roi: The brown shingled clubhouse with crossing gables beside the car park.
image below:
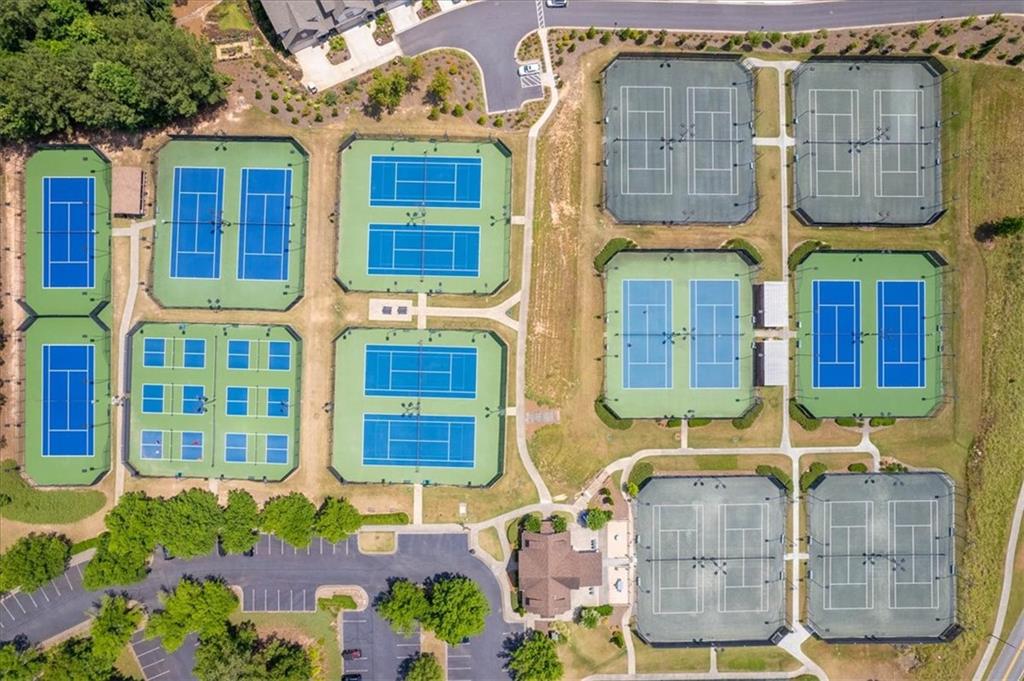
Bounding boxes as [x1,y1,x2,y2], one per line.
[518,525,604,625]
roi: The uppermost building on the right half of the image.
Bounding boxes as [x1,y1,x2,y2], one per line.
[753,281,789,327]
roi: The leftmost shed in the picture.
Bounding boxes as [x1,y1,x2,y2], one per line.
[111,166,147,215]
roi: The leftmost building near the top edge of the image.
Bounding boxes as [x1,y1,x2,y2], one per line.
[262,0,339,51]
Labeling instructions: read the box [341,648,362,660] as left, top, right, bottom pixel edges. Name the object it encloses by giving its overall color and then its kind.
black vehicle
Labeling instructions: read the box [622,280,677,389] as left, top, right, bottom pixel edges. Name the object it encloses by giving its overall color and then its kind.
blue tennis court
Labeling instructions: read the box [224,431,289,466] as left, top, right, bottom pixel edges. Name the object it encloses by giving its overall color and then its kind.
blue sports court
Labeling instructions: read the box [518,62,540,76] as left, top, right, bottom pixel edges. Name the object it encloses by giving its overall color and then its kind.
white car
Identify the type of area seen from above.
sports ground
